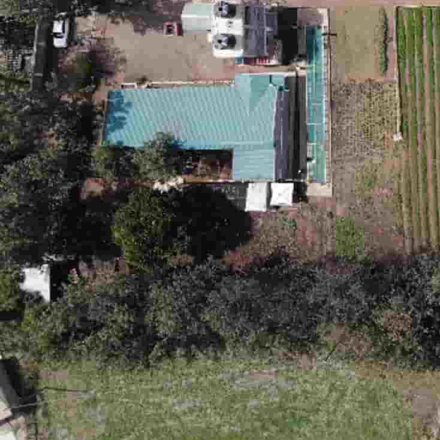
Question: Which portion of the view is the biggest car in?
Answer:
top left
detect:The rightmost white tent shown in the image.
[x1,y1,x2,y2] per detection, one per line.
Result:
[270,181,298,207]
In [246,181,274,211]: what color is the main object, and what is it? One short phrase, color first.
white tent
